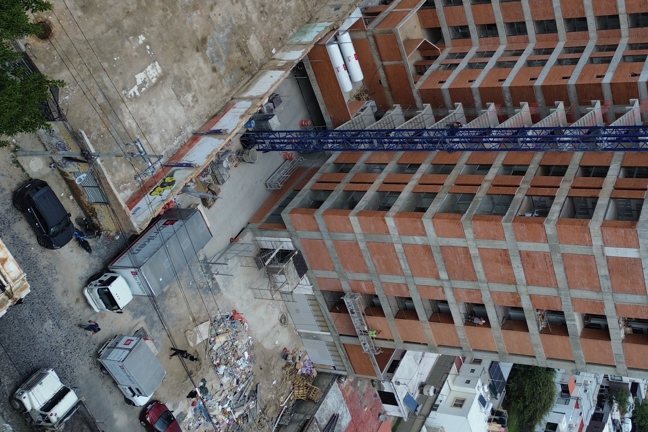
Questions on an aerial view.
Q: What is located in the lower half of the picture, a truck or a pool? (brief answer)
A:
truck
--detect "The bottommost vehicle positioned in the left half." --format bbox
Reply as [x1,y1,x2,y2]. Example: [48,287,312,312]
[141,401,186,432]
